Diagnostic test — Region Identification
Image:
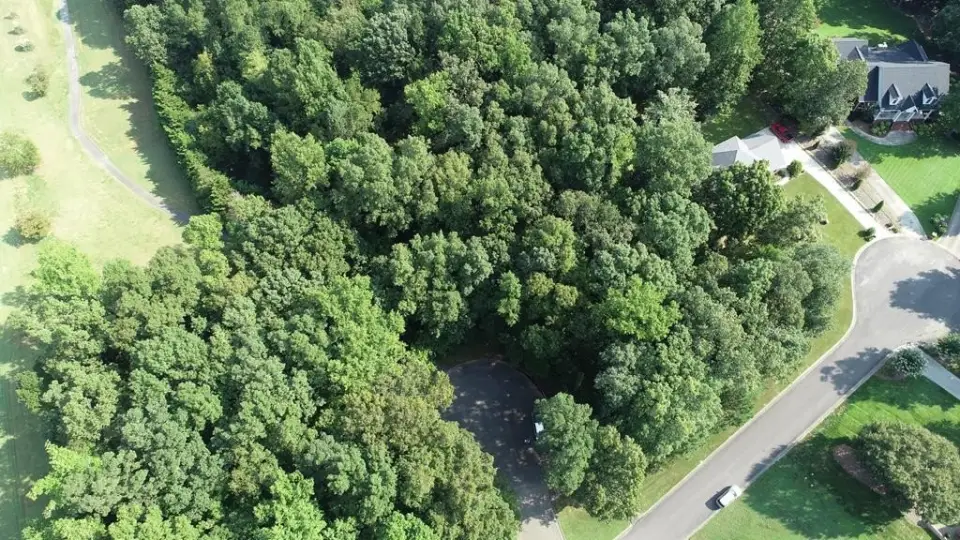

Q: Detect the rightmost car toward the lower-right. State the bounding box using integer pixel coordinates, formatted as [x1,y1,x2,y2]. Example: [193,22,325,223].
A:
[718,486,743,509]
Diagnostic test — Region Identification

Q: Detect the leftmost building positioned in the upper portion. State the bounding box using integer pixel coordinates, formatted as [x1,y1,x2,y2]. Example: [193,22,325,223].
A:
[712,135,788,179]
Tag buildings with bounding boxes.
[712,135,788,179]
[822,38,952,128]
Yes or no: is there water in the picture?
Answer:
No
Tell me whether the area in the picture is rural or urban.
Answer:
rural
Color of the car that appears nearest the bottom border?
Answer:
white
